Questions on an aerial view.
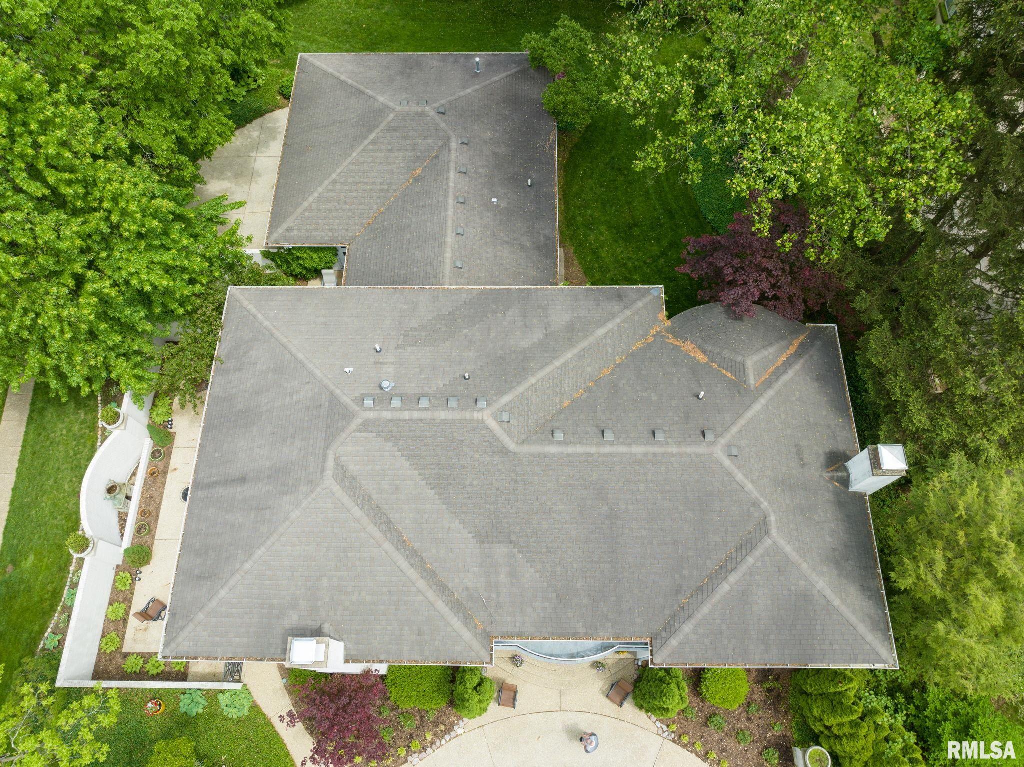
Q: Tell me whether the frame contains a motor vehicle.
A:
No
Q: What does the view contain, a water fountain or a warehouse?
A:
water fountain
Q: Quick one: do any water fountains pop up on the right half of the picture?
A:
No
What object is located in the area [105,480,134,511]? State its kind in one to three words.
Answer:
fountain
